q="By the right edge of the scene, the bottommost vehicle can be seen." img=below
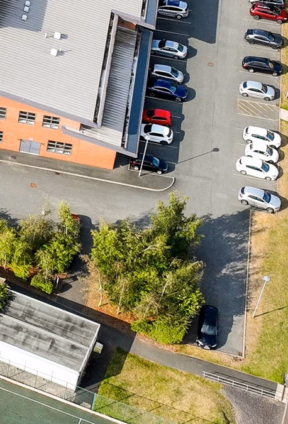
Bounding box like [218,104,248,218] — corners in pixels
[236,183,284,213]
